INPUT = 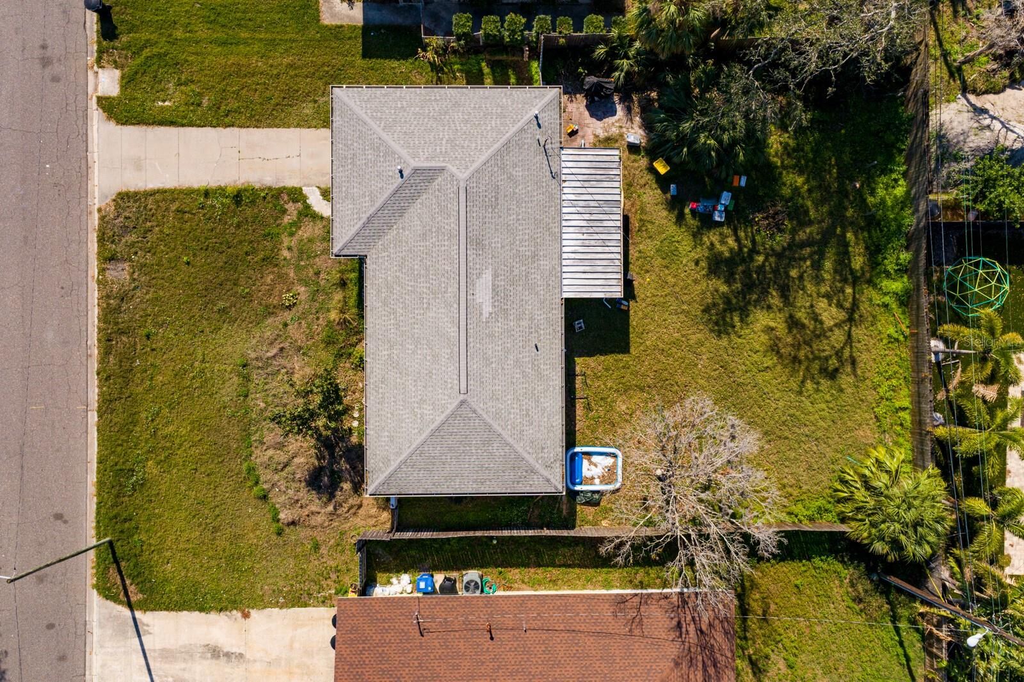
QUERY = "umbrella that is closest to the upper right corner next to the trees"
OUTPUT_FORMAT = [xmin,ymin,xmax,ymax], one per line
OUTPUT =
[583,76,614,100]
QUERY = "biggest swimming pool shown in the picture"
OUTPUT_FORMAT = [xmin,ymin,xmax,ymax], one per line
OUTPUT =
[567,447,621,490]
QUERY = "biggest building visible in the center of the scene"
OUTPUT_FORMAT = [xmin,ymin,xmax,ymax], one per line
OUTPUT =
[330,84,564,509]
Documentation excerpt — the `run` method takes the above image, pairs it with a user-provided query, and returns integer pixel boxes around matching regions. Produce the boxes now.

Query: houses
[335,586,738,682]
[330,84,564,509]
